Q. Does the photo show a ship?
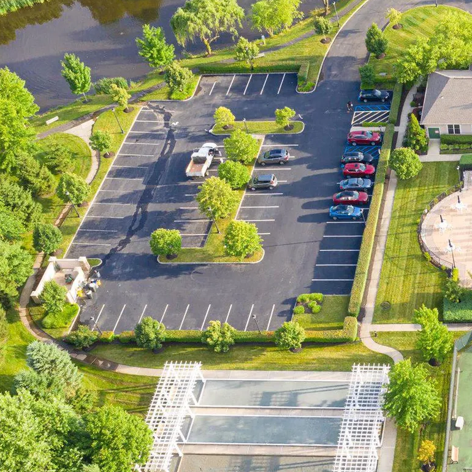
No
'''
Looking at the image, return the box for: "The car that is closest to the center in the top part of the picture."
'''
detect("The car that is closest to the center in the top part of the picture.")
[247,173,278,189]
